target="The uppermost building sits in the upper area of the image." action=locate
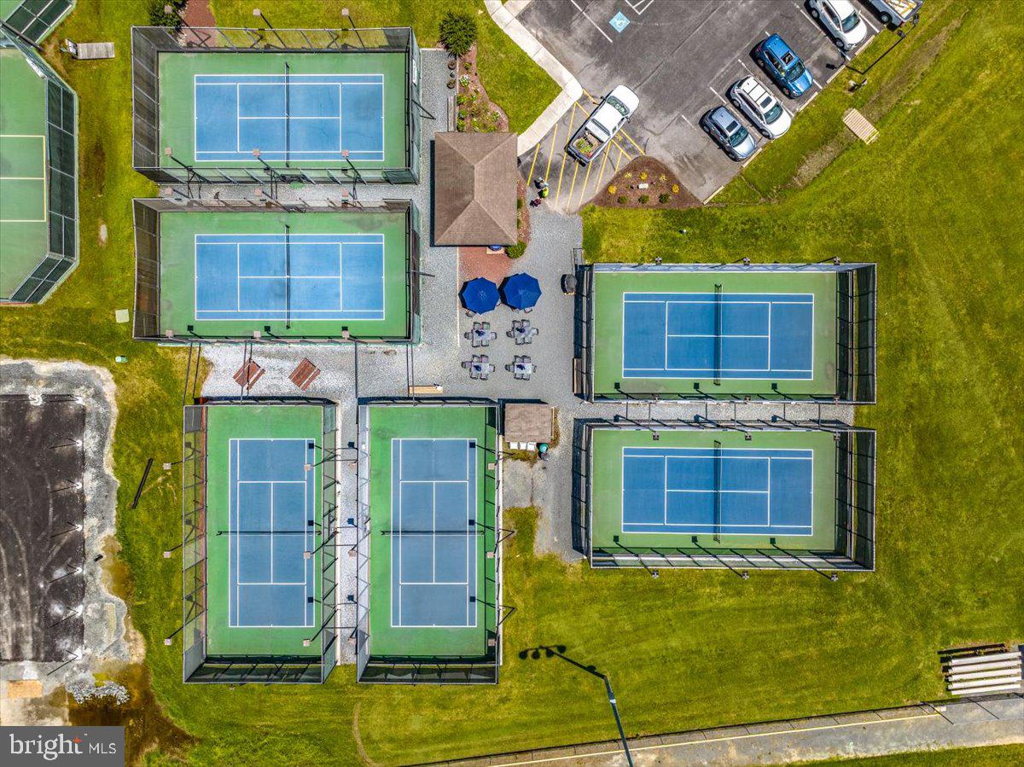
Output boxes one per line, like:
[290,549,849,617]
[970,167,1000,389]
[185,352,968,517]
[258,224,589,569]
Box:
[434,132,518,248]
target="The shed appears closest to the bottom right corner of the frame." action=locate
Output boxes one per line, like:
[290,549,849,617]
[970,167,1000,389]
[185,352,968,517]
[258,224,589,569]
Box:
[505,404,552,442]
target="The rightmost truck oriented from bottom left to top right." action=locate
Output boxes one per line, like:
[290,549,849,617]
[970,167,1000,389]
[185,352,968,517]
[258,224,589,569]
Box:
[568,85,639,164]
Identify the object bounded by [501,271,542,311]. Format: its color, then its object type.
blue umbrella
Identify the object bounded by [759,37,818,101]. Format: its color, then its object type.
blue car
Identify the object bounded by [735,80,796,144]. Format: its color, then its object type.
white car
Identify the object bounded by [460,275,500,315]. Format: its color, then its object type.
blue umbrella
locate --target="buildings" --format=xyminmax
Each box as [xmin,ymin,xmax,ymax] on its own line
[434,132,518,248]
[505,404,552,442]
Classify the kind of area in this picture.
sports ground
